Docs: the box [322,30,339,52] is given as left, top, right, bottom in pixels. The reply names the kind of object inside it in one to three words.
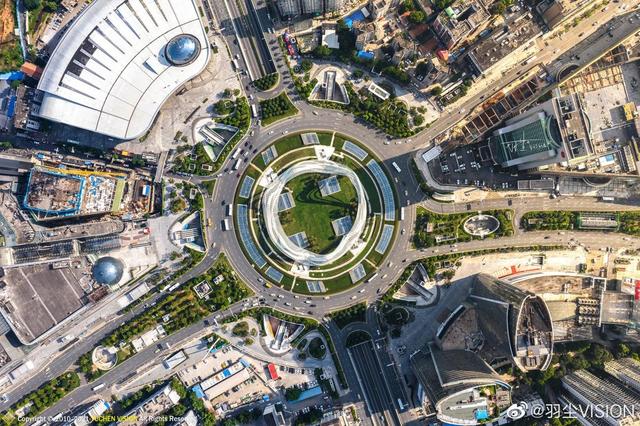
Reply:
house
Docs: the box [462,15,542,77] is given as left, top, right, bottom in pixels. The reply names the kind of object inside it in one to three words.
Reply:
building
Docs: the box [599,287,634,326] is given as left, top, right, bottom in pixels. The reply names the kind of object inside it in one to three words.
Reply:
building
